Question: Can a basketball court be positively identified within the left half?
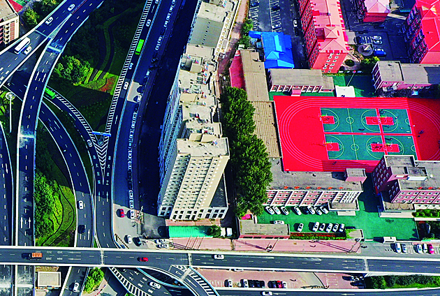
No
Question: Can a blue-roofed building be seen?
Yes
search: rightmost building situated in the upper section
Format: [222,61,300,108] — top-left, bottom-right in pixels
[405,0,440,64]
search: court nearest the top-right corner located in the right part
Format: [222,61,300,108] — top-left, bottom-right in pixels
[379,108,412,133]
